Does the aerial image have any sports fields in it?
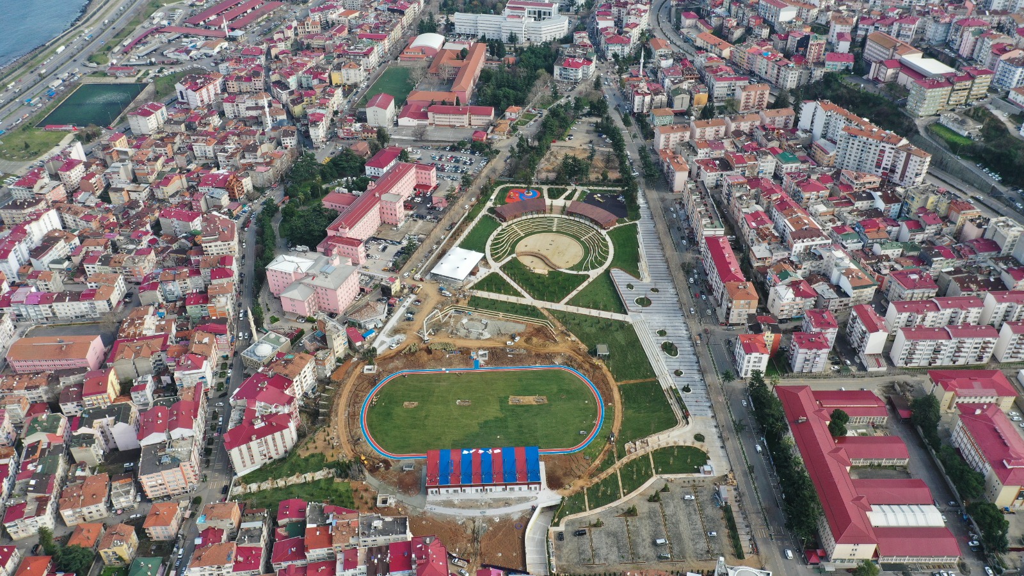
Yes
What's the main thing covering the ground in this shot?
buildings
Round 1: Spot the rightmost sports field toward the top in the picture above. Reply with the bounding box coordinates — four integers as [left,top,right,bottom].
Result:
[354,66,413,107]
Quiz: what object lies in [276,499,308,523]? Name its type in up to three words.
house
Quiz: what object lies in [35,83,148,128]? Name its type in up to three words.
sports field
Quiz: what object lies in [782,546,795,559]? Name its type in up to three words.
vehicle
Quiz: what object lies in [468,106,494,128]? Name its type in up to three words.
building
